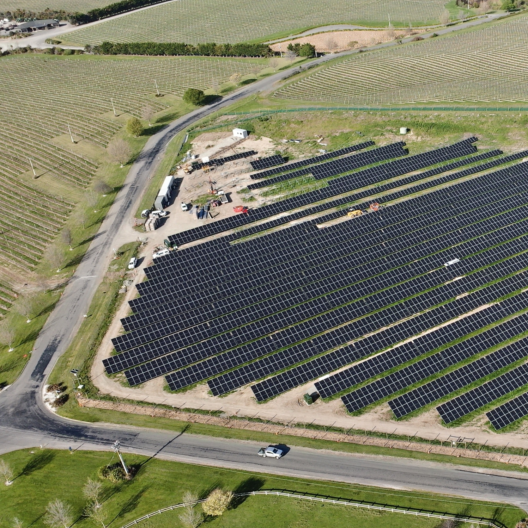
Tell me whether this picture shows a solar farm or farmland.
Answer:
solar farm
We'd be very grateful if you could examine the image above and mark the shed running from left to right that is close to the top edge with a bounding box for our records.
[7,17,66,32]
